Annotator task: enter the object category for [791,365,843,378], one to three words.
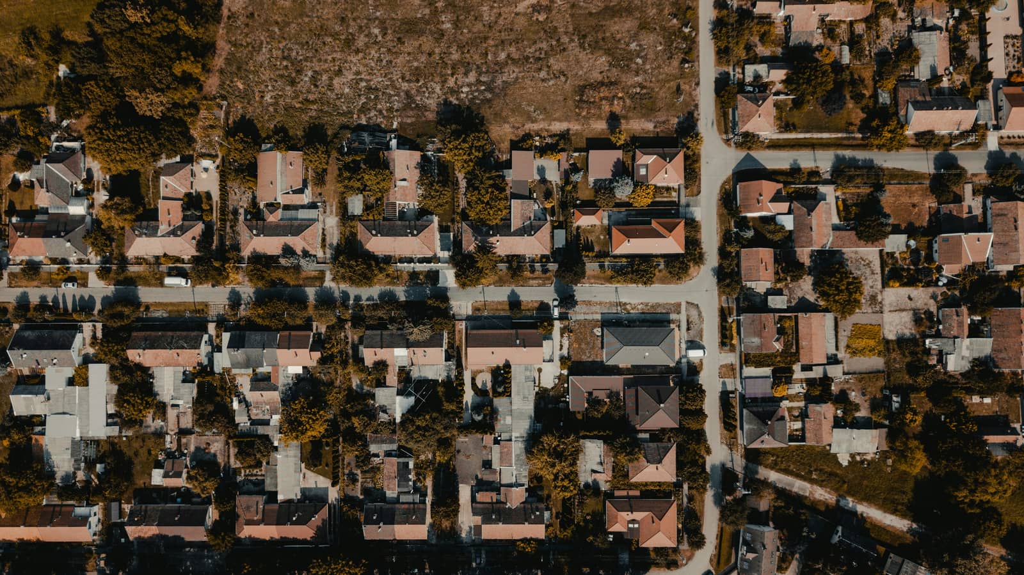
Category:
shed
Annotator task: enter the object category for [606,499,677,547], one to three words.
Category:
house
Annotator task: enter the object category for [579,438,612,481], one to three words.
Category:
building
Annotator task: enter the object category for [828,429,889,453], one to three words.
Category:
barn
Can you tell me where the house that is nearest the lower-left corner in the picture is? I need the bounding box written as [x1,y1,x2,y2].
[0,504,100,542]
